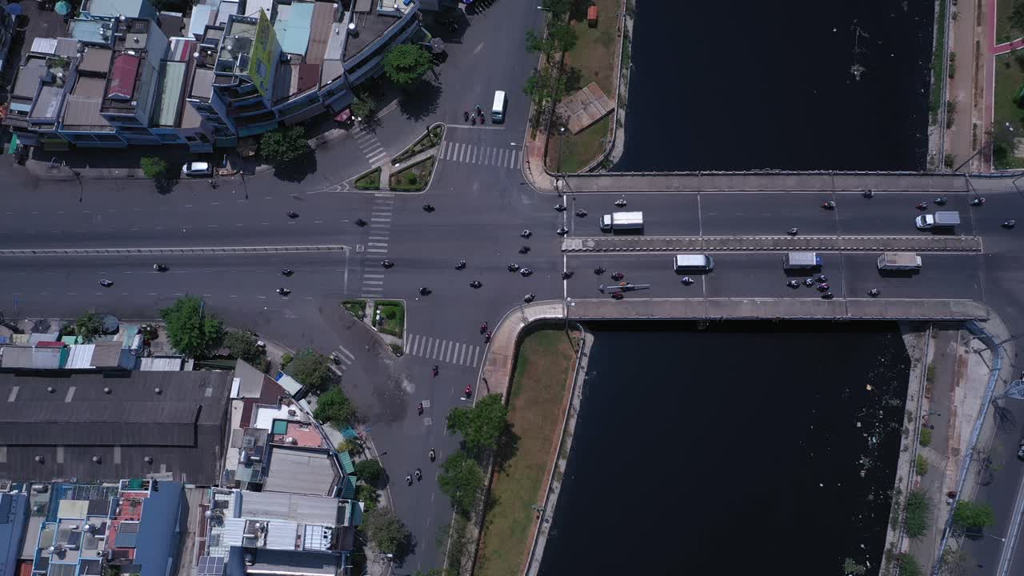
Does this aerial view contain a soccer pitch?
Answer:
No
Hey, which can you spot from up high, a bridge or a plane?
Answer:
bridge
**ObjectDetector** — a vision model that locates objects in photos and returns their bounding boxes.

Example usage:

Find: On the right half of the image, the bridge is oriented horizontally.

[563,171,993,322]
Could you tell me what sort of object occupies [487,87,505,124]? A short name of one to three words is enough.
vehicle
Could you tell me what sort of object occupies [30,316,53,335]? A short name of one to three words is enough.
umbrella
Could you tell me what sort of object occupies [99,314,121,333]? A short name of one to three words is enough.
umbrella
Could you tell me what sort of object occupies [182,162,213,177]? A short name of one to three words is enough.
car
